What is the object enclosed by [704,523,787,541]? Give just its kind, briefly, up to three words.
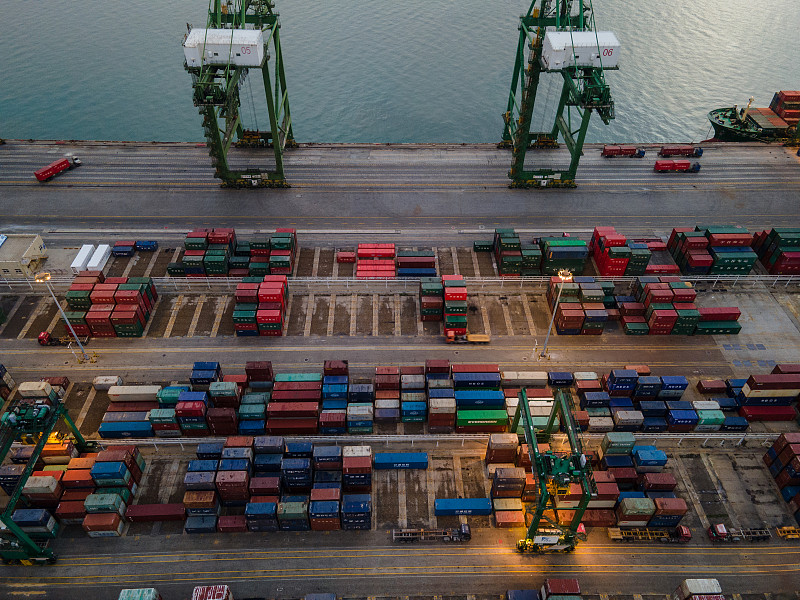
vehicle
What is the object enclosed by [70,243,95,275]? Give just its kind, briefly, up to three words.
shipping container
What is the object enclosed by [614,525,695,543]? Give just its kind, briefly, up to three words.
vehicle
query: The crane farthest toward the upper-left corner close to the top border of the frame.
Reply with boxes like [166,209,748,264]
[181,0,299,186]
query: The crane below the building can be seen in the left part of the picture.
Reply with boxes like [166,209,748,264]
[0,391,109,559]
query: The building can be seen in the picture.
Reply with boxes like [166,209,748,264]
[0,234,52,278]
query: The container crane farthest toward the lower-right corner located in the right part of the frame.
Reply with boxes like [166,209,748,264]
[495,388,597,550]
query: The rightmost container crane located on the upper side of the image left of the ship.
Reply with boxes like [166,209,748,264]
[495,0,623,187]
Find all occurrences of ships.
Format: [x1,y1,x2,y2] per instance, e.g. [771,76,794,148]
[701,88,800,144]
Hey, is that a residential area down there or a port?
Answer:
port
